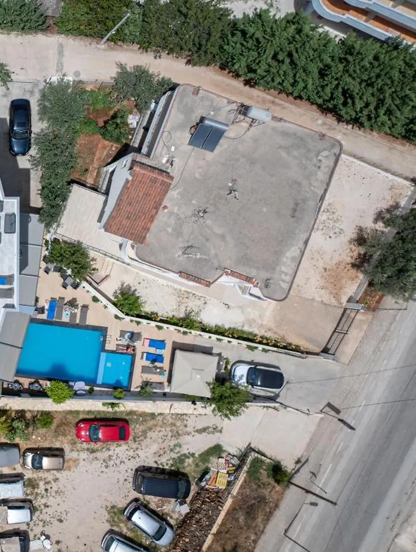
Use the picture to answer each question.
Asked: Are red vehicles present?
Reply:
Yes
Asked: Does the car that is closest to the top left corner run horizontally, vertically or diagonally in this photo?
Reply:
vertically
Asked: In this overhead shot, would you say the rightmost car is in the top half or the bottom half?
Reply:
bottom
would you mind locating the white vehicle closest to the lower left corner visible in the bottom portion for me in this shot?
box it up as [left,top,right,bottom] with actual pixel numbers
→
[0,502,34,526]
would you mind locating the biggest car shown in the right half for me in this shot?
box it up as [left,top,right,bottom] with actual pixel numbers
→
[228,363,285,393]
